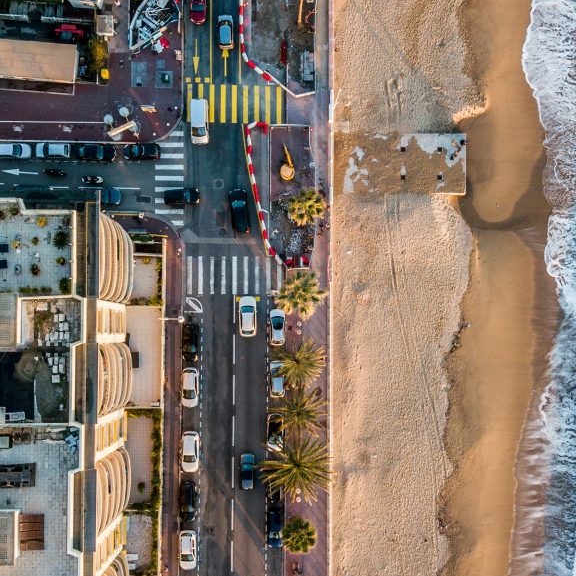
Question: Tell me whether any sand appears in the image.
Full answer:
Yes, the picture does contain sand.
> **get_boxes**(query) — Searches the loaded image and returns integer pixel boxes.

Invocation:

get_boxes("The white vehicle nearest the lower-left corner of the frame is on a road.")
[179,529,198,569]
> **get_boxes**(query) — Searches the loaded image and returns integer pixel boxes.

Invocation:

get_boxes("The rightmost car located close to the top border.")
[217,17,235,49]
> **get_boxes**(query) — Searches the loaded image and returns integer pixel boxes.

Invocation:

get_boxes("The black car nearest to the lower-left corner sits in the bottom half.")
[179,481,198,521]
